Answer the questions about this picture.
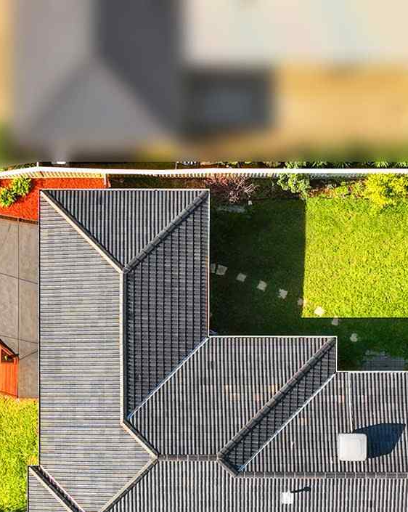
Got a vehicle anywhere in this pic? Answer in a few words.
No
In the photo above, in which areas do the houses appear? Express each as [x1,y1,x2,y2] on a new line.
[9,0,184,144]
[24,185,408,512]
[185,0,408,64]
